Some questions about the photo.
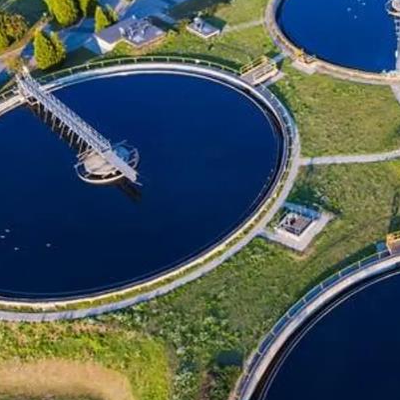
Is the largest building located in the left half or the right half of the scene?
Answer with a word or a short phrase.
left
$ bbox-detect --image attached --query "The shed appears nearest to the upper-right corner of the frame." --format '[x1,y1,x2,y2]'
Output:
[187,20,222,43]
